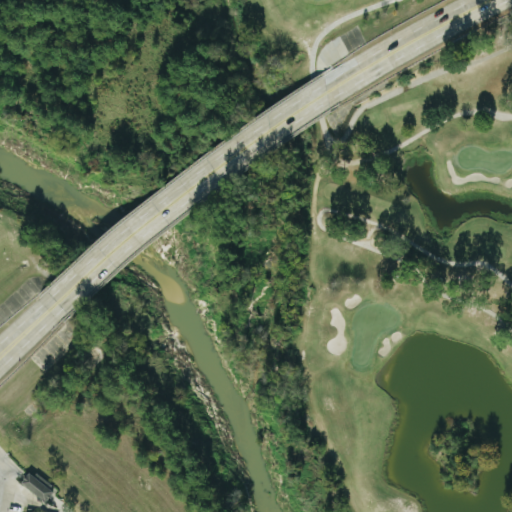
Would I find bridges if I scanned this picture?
Yes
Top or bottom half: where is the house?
bottom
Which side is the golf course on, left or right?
right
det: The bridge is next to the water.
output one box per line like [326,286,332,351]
[42,77,338,317]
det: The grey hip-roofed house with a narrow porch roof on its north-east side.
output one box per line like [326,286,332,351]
[21,474,52,502]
